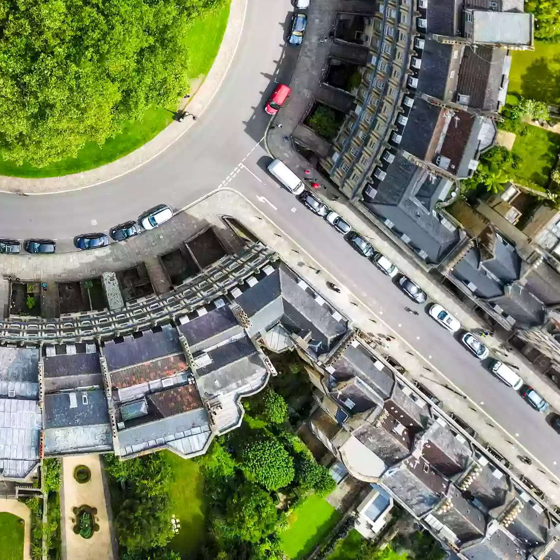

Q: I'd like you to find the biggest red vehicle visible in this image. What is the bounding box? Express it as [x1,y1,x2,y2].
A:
[265,79,292,117]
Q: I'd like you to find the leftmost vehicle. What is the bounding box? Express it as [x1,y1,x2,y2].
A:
[0,239,21,254]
